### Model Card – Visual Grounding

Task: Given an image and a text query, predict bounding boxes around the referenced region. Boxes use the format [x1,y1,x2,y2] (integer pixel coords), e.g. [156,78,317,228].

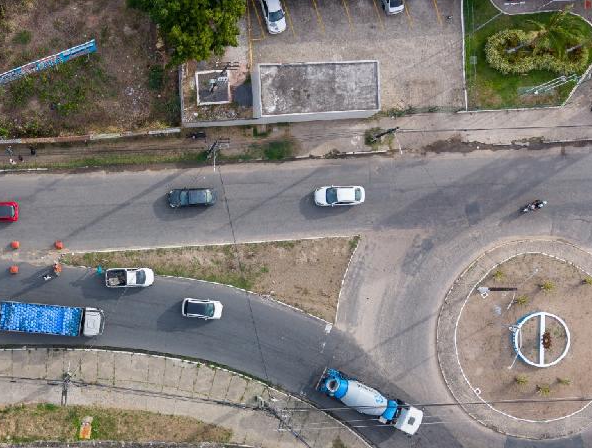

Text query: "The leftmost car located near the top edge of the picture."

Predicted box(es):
[260,0,287,35]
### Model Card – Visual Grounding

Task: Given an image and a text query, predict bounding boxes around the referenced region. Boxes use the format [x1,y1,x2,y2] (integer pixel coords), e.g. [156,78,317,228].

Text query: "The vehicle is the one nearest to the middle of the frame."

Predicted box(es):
[313,184,364,207]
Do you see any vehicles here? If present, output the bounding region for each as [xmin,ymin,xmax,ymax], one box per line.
[167,185,214,208]
[260,0,287,35]
[314,366,422,438]
[383,0,405,16]
[106,266,153,289]
[182,298,222,320]
[0,301,109,339]
[188,131,207,138]
[0,202,19,222]
[313,184,364,207]
[522,202,545,212]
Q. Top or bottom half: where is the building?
top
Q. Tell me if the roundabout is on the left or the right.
right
